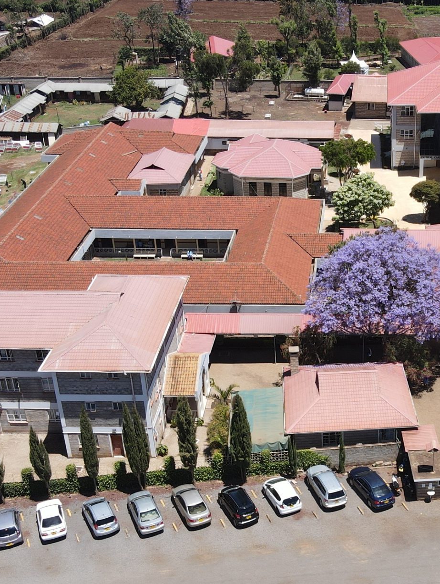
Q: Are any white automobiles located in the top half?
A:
No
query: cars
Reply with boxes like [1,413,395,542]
[215,480,258,525]
[81,494,118,537]
[304,462,346,509]
[173,479,210,528]
[0,503,23,549]
[262,474,300,516]
[126,484,165,536]
[33,494,67,542]
[334,465,391,512]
